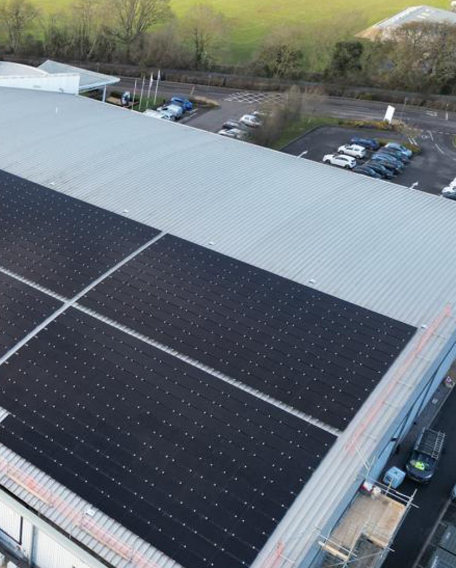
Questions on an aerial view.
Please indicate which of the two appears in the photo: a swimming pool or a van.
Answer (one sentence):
I can see a van in this picture.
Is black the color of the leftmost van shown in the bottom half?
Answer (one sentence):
Yes, black is the color of the leftmost van shown in the bottom half.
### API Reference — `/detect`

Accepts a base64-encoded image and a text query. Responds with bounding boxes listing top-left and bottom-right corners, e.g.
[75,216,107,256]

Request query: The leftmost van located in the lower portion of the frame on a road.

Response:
[398,429,448,485]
